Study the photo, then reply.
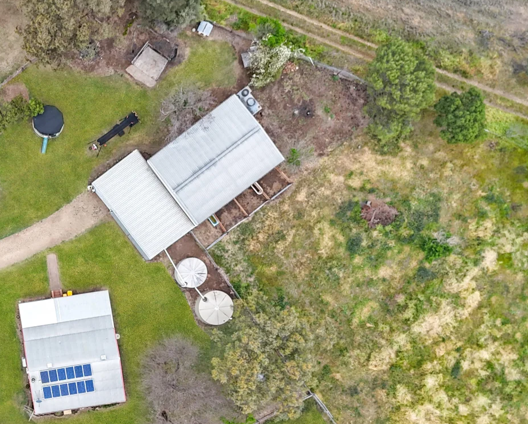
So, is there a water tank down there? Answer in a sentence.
Yes, the frame does contain a water tank.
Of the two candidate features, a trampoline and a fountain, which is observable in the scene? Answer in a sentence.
It is a trampoline that can be seen here.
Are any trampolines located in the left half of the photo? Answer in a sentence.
Yes, in the left half of the photo there is a trampoline.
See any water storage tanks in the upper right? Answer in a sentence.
No, in the upper right there is no water storage tank.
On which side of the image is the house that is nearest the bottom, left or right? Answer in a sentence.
The house that is nearest the bottom appears in the left half of the scene.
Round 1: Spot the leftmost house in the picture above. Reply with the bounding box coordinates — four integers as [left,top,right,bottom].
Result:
[18,290,127,414]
